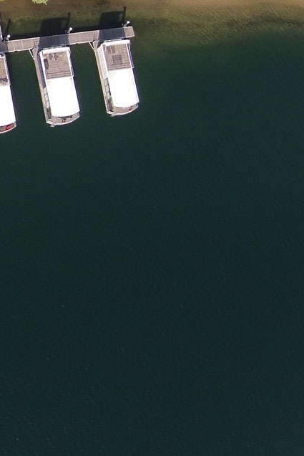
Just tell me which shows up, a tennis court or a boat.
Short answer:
boat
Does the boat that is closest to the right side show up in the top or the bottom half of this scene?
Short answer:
top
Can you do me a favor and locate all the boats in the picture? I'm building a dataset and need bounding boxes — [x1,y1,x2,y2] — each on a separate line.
[33,46,79,128]
[0,53,16,135]
[93,40,140,118]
